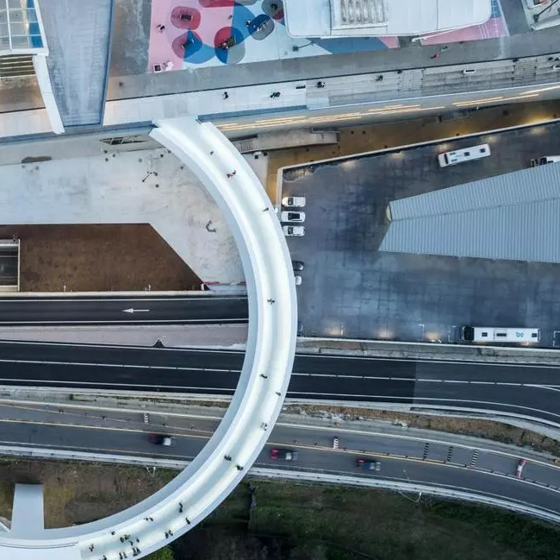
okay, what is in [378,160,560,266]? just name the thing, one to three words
shed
